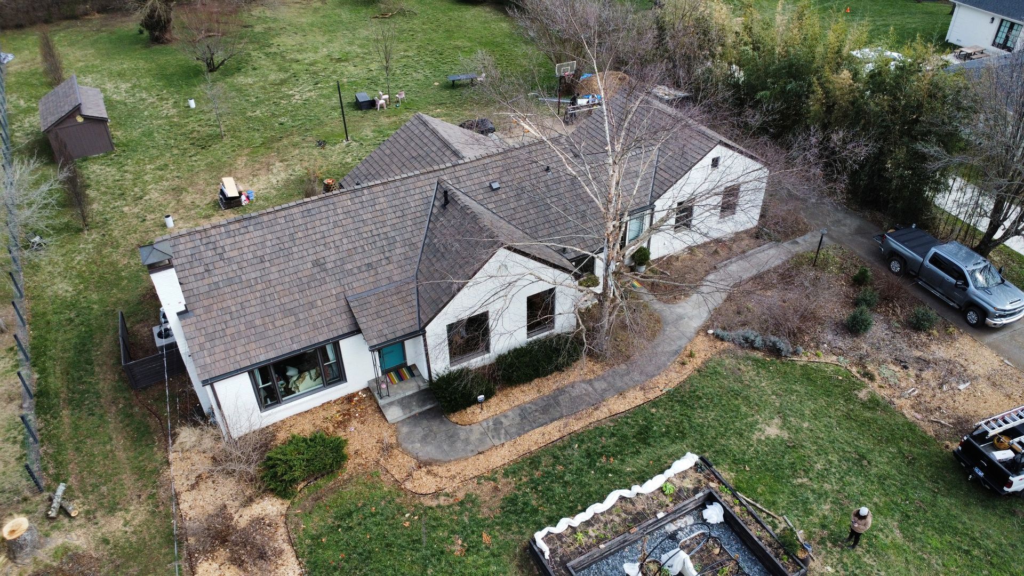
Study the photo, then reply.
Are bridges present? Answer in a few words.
No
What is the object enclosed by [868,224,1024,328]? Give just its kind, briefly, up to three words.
truck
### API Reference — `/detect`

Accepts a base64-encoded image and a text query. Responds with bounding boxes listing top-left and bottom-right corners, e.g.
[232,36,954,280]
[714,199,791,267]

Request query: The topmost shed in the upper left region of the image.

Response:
[37,75,114,162]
